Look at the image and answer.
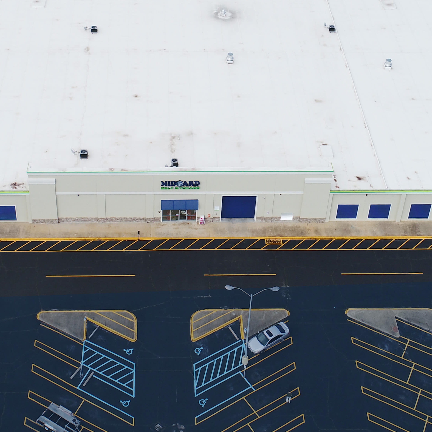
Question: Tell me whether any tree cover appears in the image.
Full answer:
No, there's no tree cover in this view.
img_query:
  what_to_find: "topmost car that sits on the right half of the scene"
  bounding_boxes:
[245,322,294,355]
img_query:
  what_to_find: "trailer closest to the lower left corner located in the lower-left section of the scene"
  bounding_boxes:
[37,405,84,432]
